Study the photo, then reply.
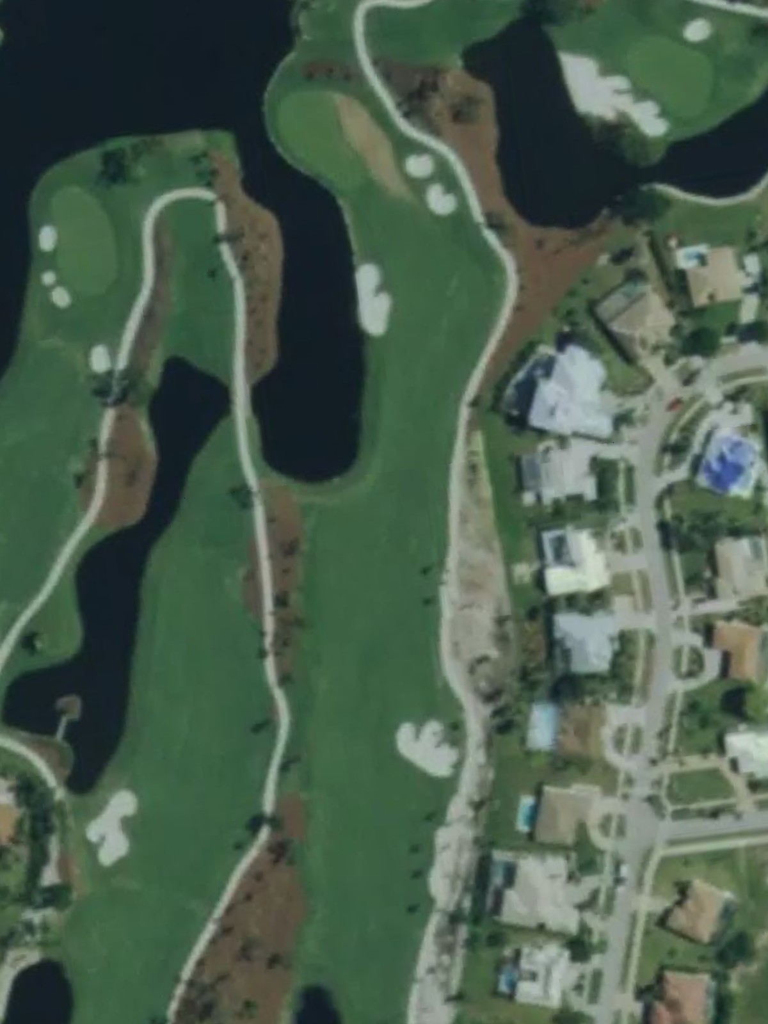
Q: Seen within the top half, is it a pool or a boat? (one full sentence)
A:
Looking within the top half, you will find a pool.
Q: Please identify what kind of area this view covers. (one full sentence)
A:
What you see here is a golf course.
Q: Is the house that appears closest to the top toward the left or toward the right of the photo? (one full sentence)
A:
The house that appears closest to the top is on the right side of the image.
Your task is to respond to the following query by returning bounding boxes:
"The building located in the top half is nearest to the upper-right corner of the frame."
[687,244,744,307]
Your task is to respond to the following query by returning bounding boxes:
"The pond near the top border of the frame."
[463,20,768,227]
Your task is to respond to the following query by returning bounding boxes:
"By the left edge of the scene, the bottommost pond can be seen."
[4,960,72,1024]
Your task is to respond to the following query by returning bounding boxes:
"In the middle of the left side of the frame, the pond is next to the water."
[3,357,229,793]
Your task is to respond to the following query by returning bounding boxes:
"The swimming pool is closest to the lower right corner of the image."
[498,965,519,993]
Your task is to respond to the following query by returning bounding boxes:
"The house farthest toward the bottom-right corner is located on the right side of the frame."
[656,973,710,1024]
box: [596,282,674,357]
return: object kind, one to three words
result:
house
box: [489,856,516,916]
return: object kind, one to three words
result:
swimming pool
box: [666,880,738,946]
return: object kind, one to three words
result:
house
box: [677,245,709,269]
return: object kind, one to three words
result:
swimming pool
